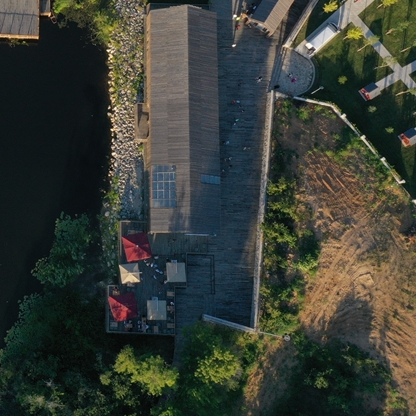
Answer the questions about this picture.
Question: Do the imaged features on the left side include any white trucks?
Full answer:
No, no white truck is visible on the left side.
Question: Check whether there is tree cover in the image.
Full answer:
Yes, tree cover shows up in the scene.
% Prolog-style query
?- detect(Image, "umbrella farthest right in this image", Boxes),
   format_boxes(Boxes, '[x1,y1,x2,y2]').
[163,256,186,284]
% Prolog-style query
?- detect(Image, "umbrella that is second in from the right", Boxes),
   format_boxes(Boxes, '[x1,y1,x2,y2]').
[145,292,168,321]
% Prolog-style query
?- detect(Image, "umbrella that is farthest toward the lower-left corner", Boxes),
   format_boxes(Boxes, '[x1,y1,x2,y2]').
[109,292,141,324]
